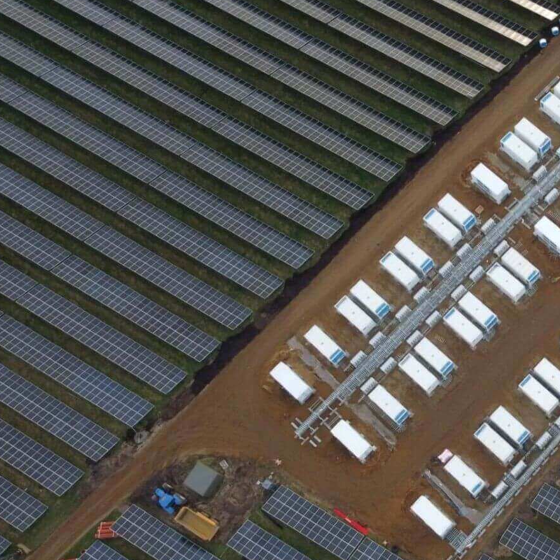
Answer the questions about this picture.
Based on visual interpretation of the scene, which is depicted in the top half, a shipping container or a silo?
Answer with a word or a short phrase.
shipping container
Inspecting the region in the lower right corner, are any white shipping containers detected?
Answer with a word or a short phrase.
Yes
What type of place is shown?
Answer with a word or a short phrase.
solar farm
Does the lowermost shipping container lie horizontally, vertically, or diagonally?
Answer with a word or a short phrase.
diagonally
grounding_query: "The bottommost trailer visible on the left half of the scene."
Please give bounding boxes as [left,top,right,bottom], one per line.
[173,505,220,541]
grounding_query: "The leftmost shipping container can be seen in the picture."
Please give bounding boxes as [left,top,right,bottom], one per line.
[271,363,316,406]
